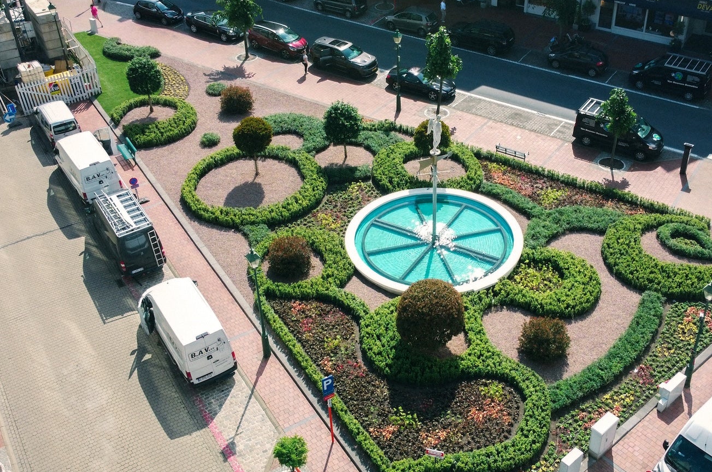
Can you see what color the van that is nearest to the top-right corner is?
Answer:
black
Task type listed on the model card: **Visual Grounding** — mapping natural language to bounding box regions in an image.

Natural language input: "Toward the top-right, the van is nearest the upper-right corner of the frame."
[628,51,712,99]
